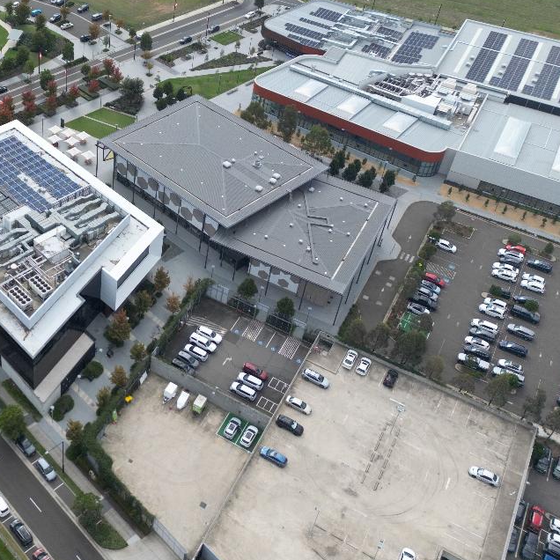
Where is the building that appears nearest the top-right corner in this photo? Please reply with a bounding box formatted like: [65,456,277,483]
[253,0,560,217]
